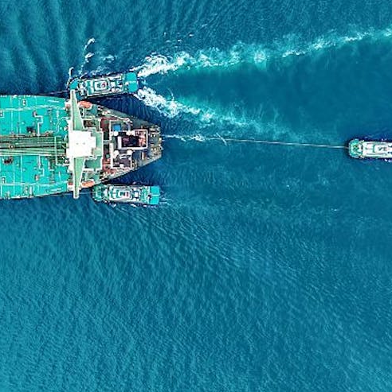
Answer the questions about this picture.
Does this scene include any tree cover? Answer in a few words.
No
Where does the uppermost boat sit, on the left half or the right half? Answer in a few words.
left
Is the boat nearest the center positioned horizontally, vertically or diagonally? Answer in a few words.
horizontally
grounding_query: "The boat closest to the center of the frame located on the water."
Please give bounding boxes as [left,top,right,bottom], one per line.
[92,184,160,205]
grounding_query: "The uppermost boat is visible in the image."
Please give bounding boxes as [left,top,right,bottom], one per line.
[67,70,138,99]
